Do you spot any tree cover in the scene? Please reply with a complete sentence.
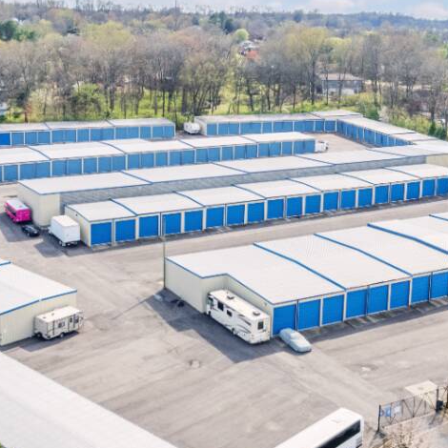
Yes, there is tree cover in the image.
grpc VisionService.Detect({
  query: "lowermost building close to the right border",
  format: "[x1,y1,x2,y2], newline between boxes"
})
[403,381,437,408]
